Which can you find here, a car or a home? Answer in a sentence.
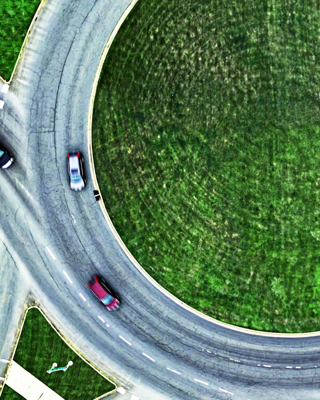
The one in the frame is a car.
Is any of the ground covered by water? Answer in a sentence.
No, the picture contains no water.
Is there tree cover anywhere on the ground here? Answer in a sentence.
No, there is no tree cover in the image.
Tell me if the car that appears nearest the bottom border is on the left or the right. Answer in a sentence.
It is on the left.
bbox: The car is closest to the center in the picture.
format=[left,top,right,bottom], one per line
[66,151,86,190]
